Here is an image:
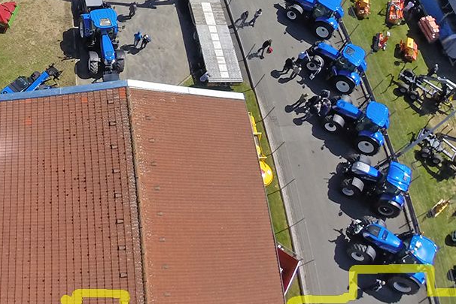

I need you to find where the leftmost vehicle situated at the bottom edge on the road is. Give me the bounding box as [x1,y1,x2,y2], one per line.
[322,212,442,293]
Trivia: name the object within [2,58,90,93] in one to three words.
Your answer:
work vehicle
